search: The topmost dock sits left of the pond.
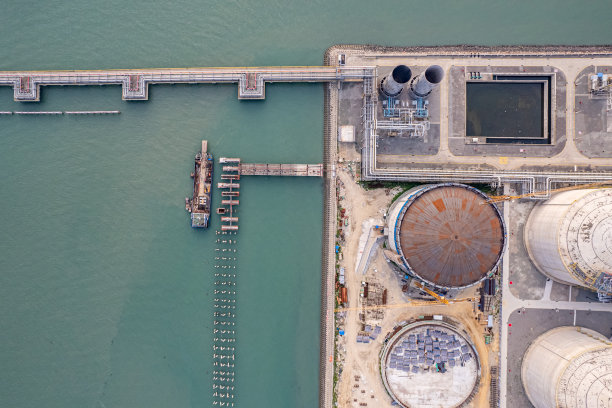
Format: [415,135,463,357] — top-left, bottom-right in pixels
[0,66,338,102]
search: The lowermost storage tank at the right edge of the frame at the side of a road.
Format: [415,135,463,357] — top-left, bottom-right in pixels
[524,325,612,408]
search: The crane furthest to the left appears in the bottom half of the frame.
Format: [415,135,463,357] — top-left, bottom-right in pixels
[333,279,484,314]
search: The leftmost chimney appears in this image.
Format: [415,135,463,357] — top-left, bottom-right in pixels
[380,65,412,100]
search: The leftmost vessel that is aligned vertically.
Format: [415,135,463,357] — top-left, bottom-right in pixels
[188,140,219,228]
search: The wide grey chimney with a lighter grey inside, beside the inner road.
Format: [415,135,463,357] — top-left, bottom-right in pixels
[409,65,444,100]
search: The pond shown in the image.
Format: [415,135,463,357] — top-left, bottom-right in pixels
[464,73,557,146]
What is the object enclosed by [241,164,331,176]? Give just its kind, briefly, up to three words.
pier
